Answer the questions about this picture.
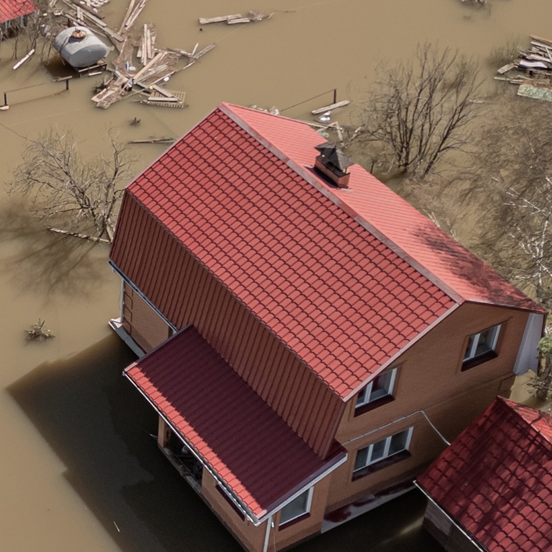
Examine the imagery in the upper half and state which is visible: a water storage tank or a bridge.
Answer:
water storage tank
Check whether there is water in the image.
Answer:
Yes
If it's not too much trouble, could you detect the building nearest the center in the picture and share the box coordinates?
[105,99,550,552]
